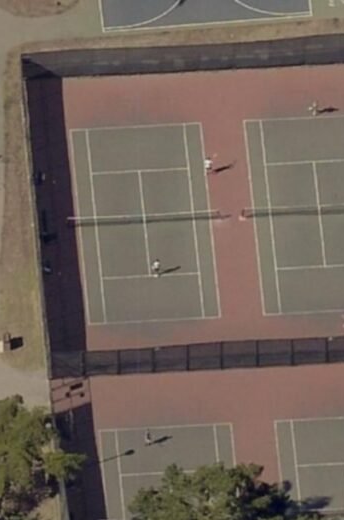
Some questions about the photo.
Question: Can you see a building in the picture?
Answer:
No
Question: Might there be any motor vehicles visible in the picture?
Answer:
No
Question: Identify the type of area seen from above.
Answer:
sports ground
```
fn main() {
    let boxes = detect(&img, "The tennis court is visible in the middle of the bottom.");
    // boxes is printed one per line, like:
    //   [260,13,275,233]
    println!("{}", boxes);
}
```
[100,423,238,520]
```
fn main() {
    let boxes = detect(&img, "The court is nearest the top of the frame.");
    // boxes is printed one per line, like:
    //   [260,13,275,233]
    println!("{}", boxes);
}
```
[99,0,313,31]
